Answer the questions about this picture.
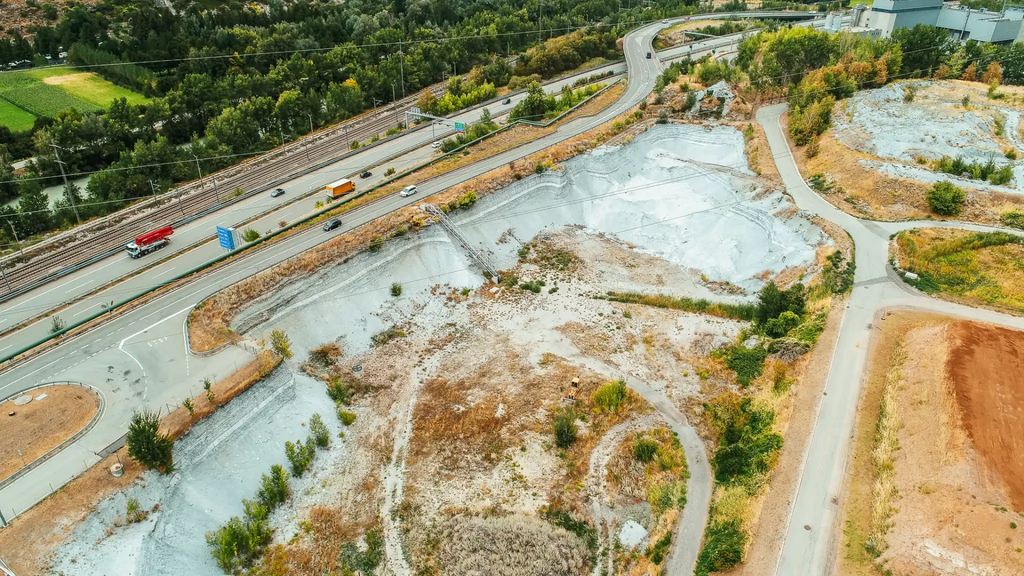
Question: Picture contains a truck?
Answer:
Yes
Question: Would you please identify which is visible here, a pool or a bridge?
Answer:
bridge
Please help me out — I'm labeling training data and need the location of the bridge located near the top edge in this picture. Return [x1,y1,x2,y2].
[614,11,838,105]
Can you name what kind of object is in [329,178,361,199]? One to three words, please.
truck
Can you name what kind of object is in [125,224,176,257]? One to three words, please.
truck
